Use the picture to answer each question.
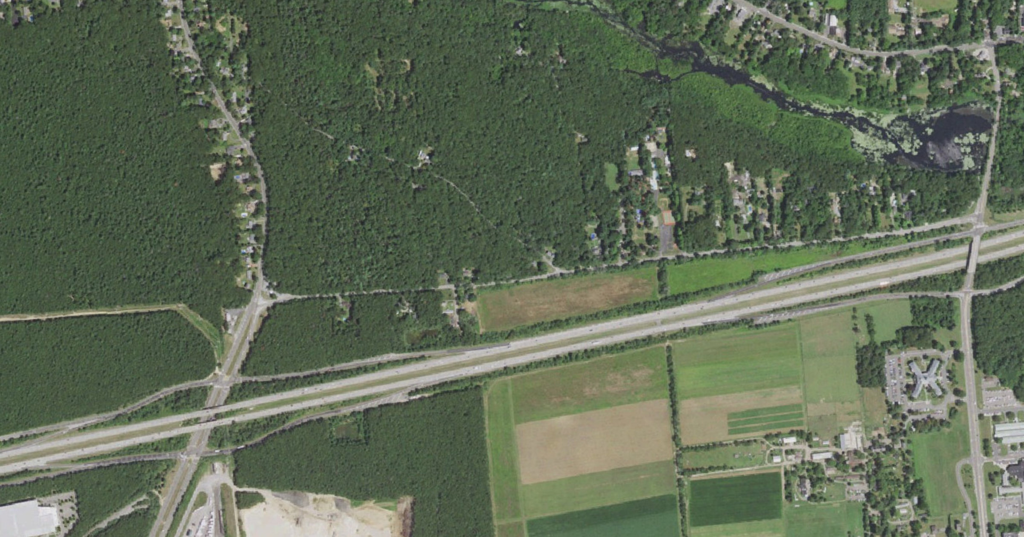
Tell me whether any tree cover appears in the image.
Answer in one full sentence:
Yes, tree cover can be seen from above here.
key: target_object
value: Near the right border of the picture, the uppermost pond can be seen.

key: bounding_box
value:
[838,101,994,172]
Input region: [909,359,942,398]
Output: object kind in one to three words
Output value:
building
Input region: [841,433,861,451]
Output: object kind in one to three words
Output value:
barn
